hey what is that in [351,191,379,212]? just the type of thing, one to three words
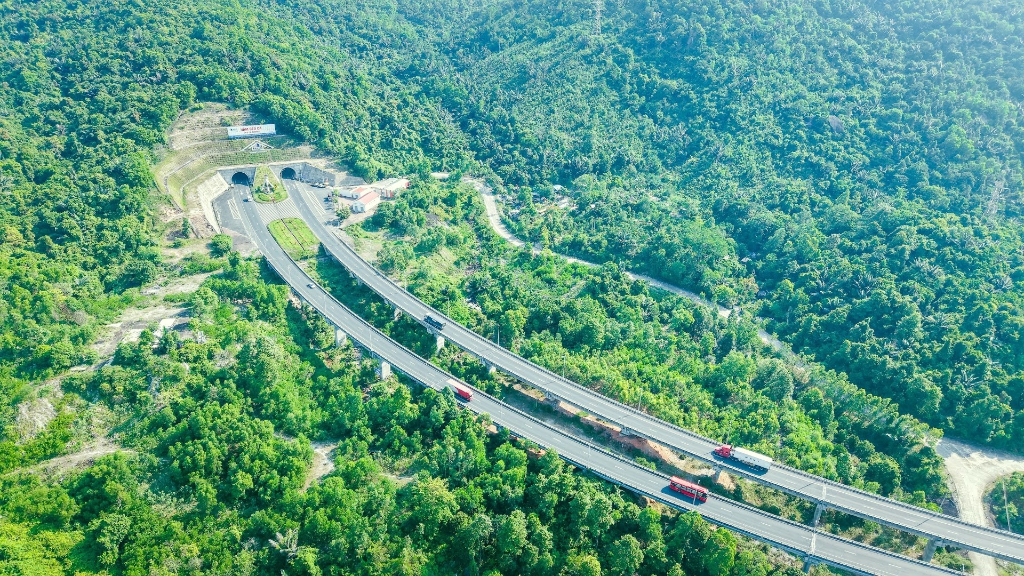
building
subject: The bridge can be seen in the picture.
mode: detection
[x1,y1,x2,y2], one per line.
[323,240,1024,568]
